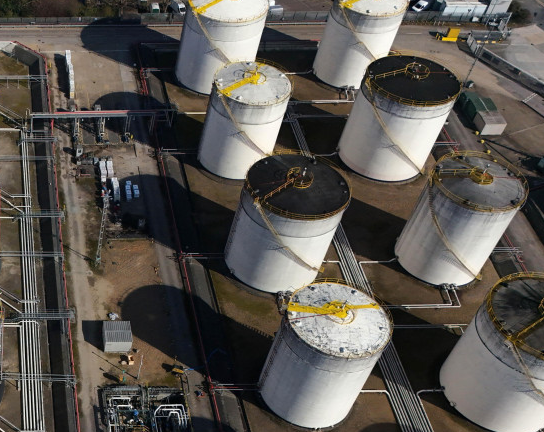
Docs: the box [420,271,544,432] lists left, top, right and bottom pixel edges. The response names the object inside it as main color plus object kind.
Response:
gray storage tank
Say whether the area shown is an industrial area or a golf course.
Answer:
industrial area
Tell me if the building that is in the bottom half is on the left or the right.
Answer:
left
